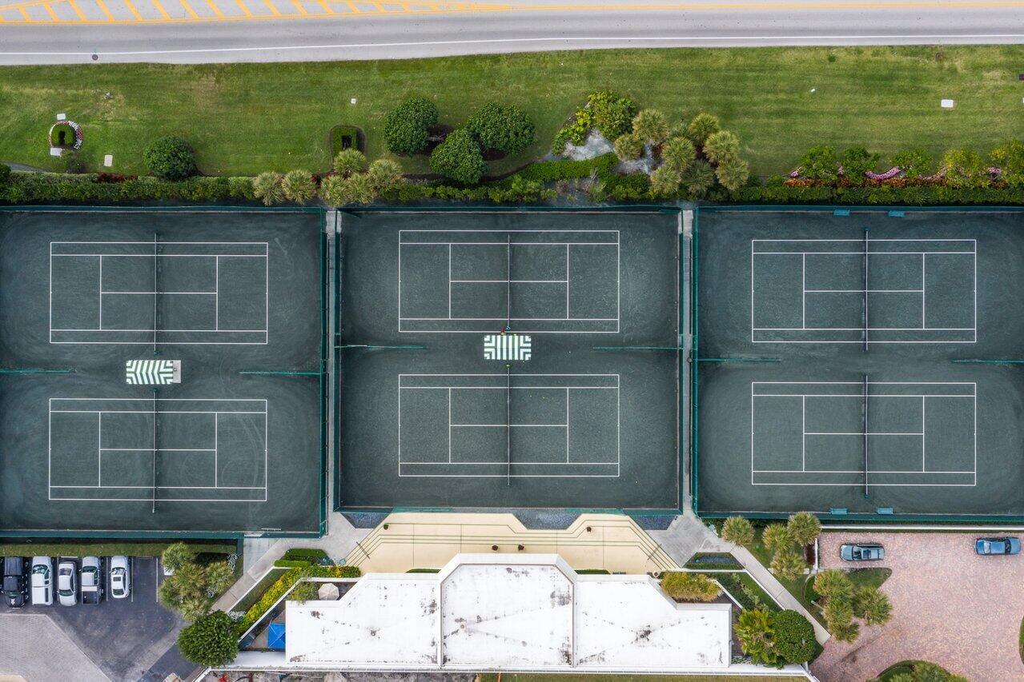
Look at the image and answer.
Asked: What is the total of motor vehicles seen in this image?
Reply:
7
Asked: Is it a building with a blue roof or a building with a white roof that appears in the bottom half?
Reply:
building with a white roof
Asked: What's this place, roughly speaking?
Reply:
sports ground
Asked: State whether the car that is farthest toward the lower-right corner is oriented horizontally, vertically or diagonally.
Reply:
horizontally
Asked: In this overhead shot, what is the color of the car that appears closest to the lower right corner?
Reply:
blue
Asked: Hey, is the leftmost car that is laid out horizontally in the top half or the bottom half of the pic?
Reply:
bottom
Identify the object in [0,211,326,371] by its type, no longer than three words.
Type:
tennis court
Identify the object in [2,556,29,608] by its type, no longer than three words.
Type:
truck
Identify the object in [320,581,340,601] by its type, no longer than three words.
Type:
umbrella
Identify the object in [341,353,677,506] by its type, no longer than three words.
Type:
tennis court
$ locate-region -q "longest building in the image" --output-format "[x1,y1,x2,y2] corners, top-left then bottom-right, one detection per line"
[285,554,733,668]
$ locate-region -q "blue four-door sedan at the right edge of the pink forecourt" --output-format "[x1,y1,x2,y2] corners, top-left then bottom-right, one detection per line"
[972,536,1019,558]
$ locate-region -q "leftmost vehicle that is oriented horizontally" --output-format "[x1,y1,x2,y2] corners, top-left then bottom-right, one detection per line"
[838,542,885,565]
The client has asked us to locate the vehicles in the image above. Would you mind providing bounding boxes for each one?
[2,556,29,608]
[30,555,57,609]
[838,542,885,565]
[972,536,1019,558]
[109,555,133,599]
[80,555,106,606]
[58,561,82,606]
